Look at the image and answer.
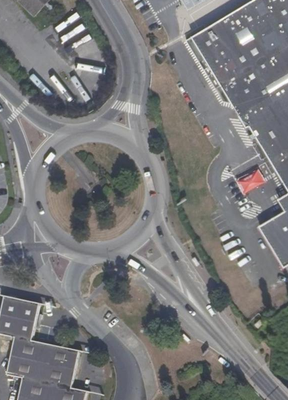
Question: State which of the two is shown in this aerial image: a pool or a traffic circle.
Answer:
traffic circle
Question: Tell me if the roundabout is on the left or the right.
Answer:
left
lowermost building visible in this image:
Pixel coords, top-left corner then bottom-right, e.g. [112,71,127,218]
[8,336,88,400]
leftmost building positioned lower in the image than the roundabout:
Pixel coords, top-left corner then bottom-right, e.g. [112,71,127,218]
[0,296,41,340]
